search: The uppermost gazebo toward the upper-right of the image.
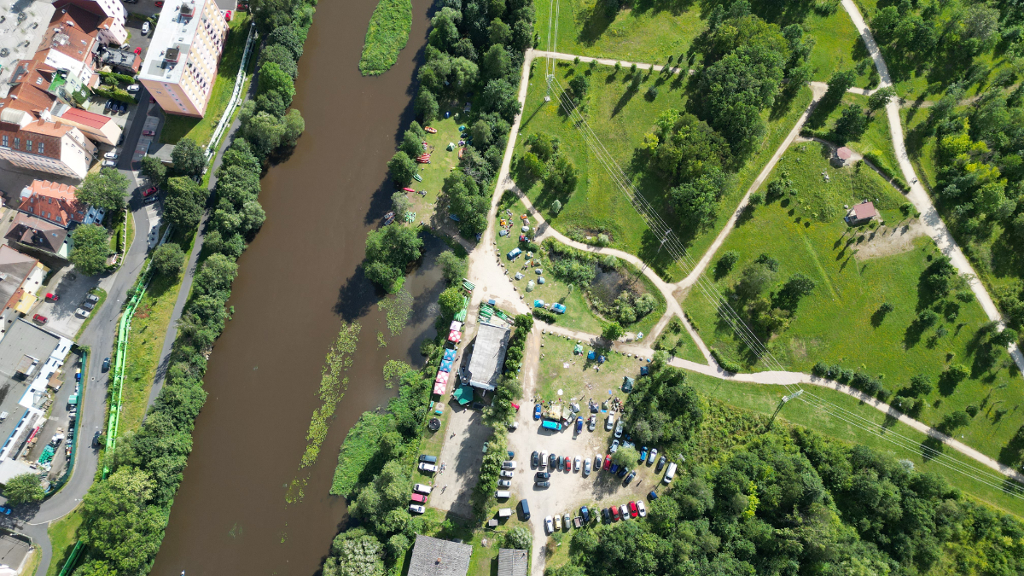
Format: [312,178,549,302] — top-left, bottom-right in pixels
[834,147,850,163]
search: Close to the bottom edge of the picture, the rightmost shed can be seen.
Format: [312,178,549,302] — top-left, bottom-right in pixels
[498,548,527,576]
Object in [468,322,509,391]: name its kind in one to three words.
building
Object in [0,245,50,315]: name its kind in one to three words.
house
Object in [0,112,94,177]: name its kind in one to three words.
house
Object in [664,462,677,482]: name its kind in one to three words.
vehicle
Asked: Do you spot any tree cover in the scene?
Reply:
Yes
